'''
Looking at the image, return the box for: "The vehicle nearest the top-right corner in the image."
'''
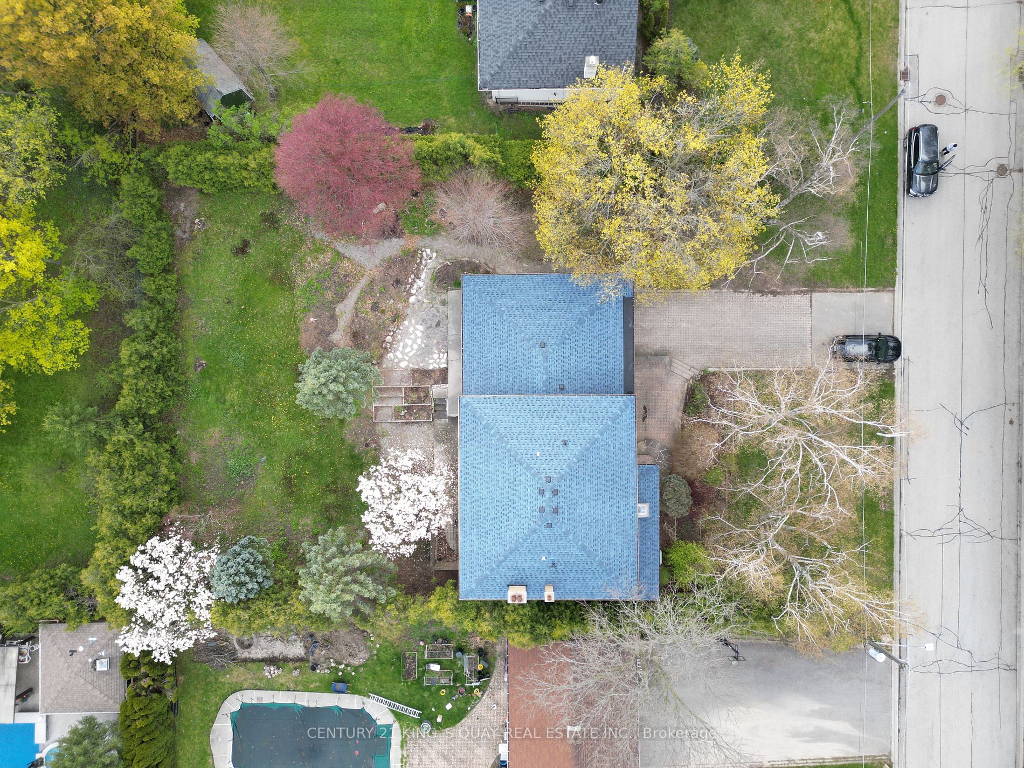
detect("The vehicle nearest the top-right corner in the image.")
[901,119,955,194]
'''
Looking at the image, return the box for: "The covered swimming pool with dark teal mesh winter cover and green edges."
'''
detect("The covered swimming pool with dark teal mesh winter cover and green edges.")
[221,692,402,768]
